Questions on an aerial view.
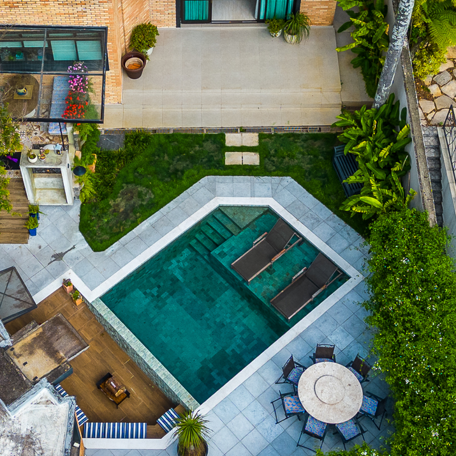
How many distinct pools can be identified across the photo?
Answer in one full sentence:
My tally gives 1 pool in this photo.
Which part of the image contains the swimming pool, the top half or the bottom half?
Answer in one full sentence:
The swimming pool is in the bottom half of the image.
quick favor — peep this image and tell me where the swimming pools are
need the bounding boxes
[28,196,366,450]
